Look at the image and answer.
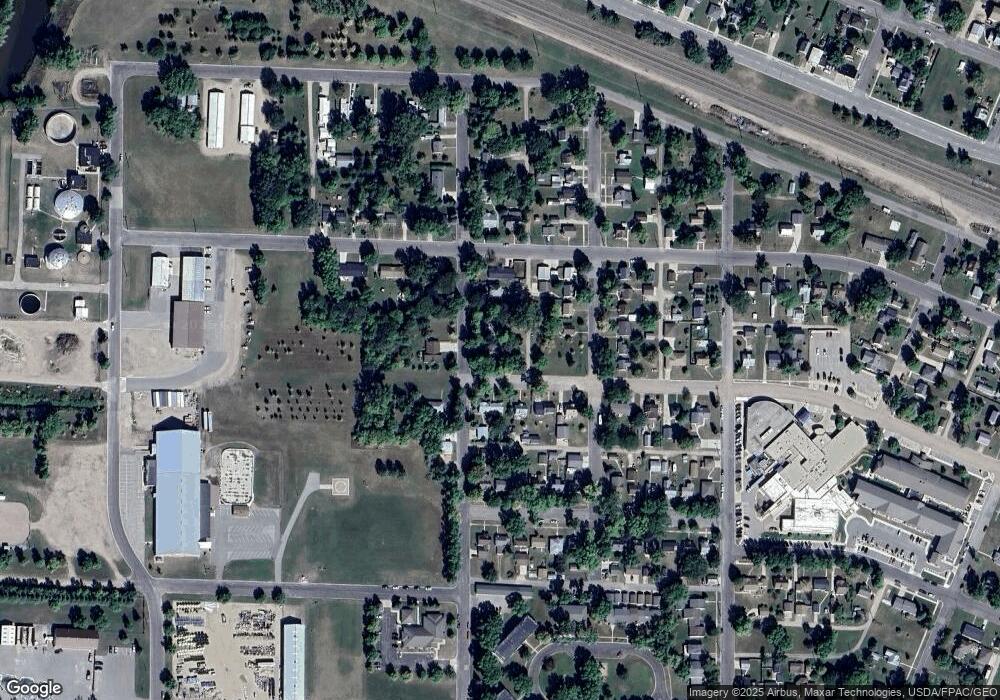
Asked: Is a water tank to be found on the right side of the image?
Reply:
No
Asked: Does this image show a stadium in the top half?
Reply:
No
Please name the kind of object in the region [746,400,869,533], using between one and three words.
building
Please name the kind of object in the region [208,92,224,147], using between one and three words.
shed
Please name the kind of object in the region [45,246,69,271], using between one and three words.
water tank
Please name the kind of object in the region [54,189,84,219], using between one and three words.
water tank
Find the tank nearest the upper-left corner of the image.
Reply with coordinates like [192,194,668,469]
[45,111,75,142]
